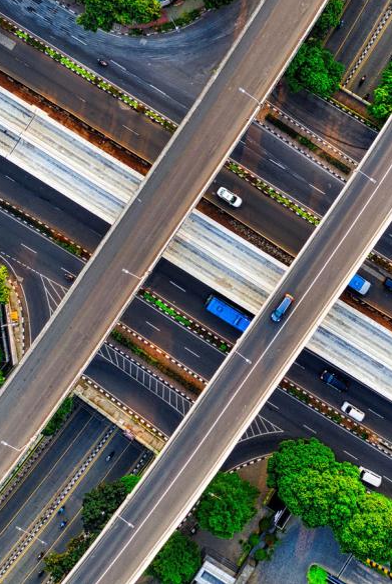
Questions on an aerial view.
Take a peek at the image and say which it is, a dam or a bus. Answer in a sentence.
Looking from above, you can make out a bus.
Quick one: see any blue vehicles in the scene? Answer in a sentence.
Yes, there is a blue vehicle in the image.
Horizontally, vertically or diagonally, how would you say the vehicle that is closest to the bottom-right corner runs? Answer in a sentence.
The vehicle that is closest to the bottom-right corner has been laid out diagonally relative to the frame.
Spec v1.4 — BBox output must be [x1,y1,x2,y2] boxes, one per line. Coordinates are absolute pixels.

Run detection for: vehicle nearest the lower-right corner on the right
[356,466,384,489]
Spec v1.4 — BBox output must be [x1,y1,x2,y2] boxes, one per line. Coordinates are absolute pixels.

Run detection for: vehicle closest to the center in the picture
[204,295,255,335]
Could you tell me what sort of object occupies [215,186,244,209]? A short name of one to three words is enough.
car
